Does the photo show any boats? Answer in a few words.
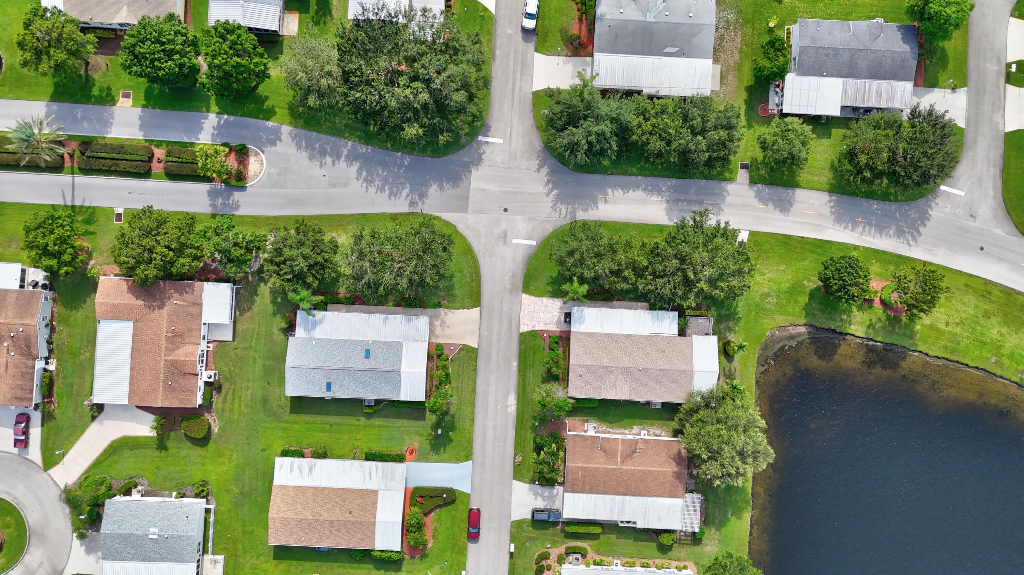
No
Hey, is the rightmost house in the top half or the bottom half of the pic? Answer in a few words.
top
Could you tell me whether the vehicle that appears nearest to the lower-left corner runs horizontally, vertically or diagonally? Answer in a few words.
vertically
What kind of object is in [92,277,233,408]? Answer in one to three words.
house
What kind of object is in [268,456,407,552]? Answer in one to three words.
house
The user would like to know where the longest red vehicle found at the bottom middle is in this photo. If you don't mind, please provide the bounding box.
[467,507,481,540]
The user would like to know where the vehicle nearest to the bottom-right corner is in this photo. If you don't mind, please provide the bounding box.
[530,508,562,524]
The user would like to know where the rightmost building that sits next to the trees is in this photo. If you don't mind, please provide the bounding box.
[782,18,919,116]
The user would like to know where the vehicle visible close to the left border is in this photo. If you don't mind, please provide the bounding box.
[12,407,32,444]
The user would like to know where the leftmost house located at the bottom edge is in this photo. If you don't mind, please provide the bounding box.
[96,490,206,575]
